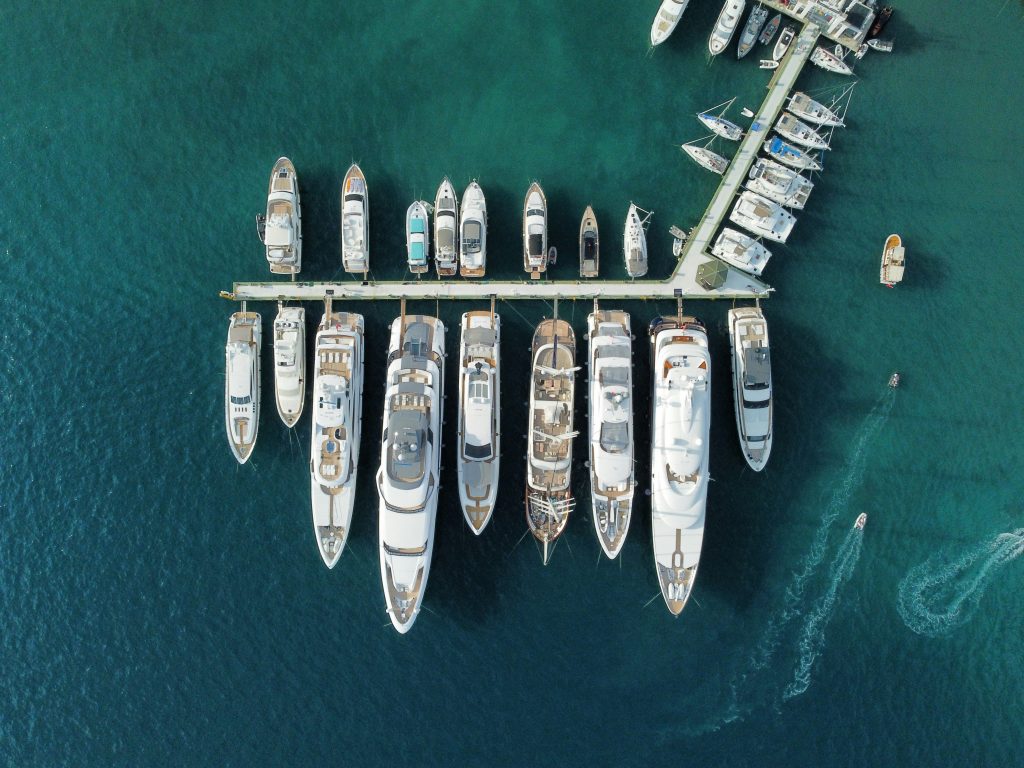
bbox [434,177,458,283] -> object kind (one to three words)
boat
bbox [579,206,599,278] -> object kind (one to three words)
boat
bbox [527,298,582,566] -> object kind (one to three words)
ship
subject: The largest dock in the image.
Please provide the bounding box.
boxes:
[233,24,820,300]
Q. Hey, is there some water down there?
Yes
